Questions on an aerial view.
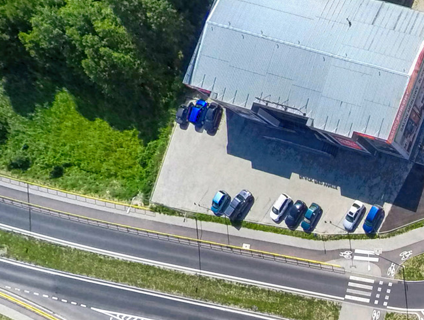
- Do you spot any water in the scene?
No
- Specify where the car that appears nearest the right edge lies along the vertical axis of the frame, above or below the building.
below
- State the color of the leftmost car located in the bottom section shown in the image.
blue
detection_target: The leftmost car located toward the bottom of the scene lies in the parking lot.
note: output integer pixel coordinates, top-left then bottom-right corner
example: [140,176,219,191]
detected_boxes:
[211,189,232,215]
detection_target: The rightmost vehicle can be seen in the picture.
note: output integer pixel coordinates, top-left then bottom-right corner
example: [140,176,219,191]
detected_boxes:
[363,204,384,233]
